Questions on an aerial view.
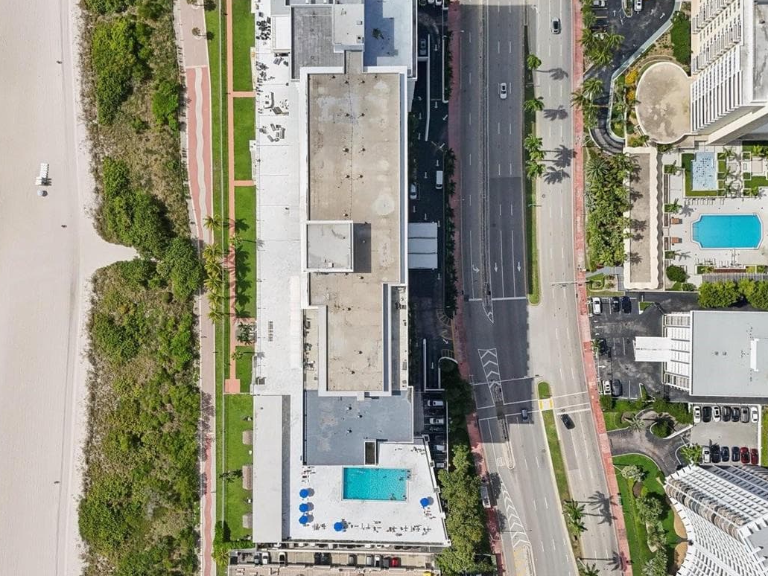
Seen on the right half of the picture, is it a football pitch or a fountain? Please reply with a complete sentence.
There is a fountain on the right half of the picture.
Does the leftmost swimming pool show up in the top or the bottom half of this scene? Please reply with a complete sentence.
You can find the leftmost swimming pool in the bottom half.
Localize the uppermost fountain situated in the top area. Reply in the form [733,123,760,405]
[692,152,717,191]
